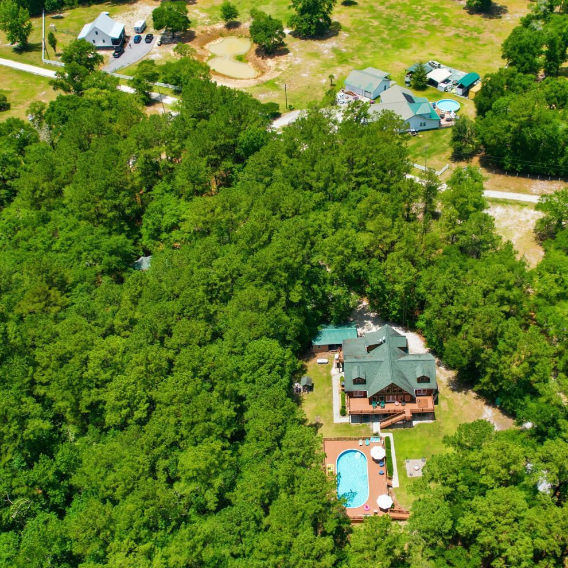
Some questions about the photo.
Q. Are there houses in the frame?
Yes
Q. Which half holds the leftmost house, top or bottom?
top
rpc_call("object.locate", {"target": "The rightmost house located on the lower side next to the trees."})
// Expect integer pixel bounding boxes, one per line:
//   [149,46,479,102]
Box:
[341,322,437,427]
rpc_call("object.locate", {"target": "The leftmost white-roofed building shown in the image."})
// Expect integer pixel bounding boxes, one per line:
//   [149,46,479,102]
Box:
[77,12,127,46]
